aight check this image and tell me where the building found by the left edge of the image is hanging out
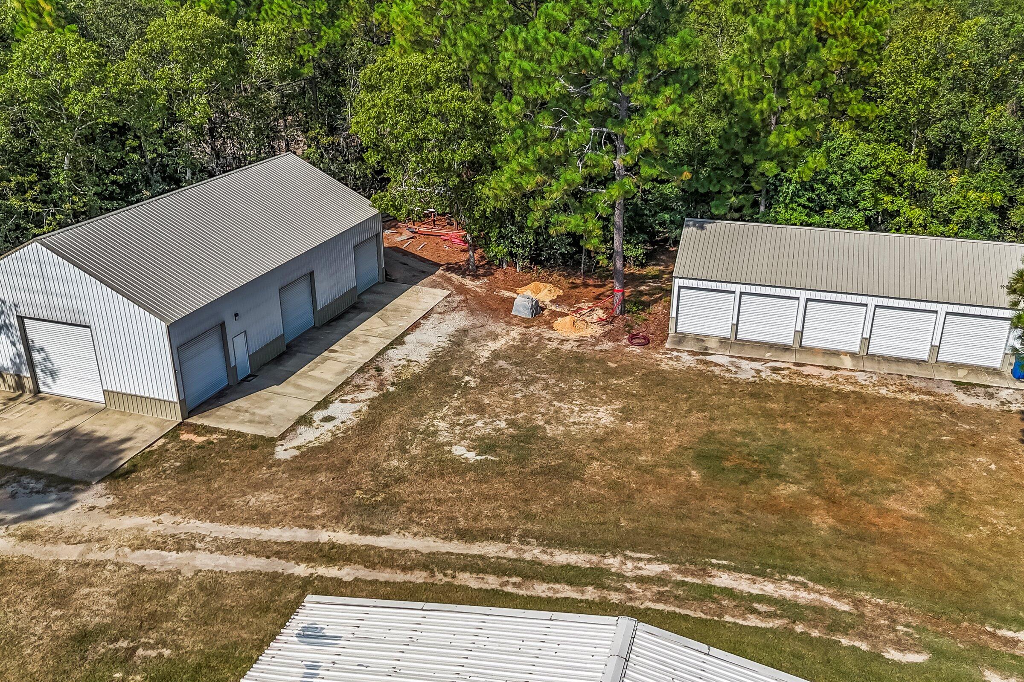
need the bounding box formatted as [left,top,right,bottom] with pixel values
[0,152,385,421]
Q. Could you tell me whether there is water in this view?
No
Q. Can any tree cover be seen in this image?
Yes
